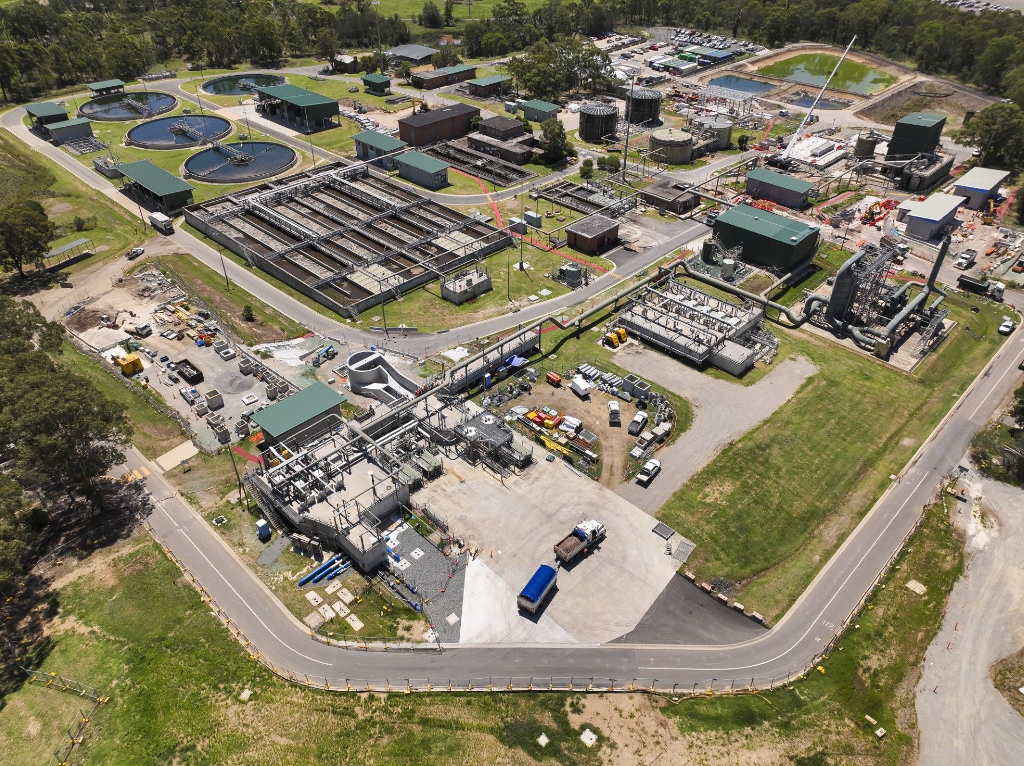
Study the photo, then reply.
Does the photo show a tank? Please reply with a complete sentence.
Yes, there's a tank here.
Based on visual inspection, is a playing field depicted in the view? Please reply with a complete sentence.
No, this view has no playing field in it.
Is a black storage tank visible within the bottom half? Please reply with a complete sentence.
No, there is no black storage tank within the bottom half.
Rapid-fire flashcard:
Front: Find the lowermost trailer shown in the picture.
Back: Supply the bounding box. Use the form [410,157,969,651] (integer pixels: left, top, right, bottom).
[513,563,561,616]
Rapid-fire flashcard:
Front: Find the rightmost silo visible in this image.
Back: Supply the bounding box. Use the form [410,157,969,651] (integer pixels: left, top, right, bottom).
[853,128,882,155]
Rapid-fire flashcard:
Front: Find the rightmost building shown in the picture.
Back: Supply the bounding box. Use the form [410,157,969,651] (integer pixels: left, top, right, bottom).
[950,164,1012,207]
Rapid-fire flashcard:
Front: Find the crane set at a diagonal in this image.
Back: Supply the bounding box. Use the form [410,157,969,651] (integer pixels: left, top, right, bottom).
[766,33,859,159]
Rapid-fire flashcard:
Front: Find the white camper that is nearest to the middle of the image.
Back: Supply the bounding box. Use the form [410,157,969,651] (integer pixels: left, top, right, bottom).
[572,378,593,398]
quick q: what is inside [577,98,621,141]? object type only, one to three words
storage tank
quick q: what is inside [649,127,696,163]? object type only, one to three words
storage tank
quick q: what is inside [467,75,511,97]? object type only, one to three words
building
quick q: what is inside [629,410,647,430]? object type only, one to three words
vehicle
